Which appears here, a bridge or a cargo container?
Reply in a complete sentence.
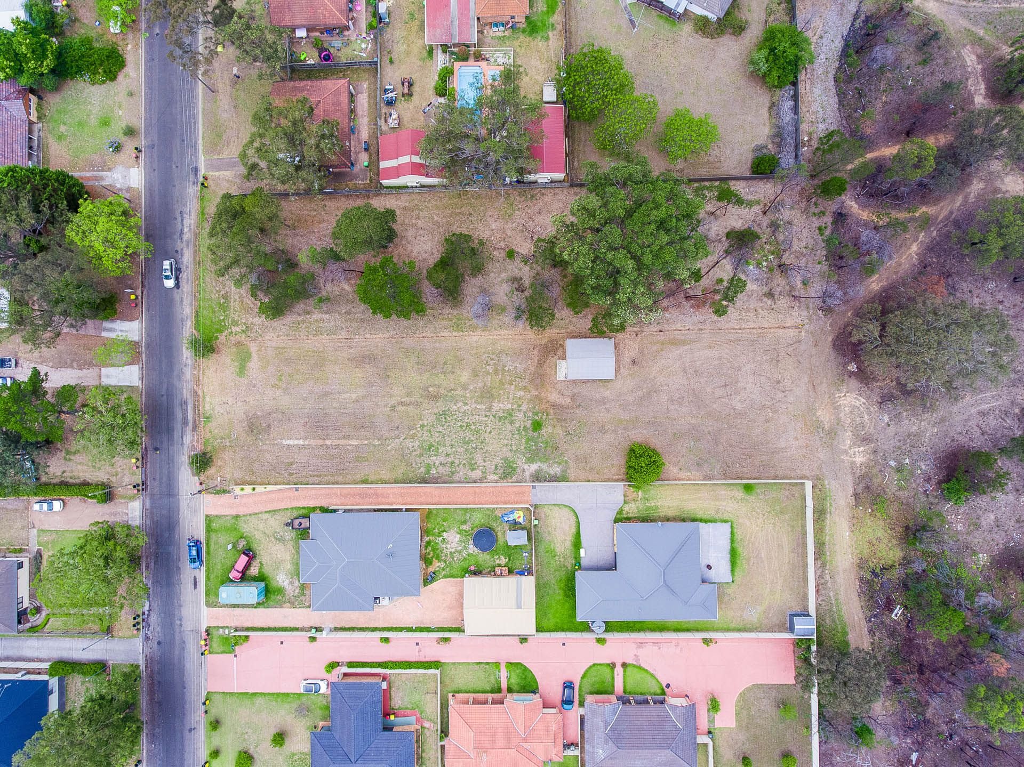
Of the two, only a cargo container appears.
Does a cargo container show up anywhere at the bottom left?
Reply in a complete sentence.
Yes, a cargo container appears at the bottom left.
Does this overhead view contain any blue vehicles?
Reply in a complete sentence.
Yes, the picture does show a blue vehicle.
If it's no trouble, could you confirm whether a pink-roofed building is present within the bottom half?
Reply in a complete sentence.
Yes, a pink-roofed building is visible within the bottom half.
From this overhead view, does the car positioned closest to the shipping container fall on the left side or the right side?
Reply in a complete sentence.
The car positioned closest to the shipping container appears in the left half of the scene.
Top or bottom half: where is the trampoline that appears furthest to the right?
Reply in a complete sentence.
The trampoline that appears furthest to the right sits in the bottom half of the picture.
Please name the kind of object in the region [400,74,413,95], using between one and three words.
vehicle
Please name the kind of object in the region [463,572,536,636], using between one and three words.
building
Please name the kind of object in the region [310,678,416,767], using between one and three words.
house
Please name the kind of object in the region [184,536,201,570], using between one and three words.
car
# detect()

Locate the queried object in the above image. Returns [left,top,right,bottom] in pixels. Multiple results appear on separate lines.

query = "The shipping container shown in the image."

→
[217,579,263,605]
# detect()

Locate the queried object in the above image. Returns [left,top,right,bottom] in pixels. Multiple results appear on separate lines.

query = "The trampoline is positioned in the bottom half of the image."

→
[473,530,496,553]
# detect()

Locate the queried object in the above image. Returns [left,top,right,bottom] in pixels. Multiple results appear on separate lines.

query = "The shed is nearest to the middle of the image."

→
[566,338,615,380]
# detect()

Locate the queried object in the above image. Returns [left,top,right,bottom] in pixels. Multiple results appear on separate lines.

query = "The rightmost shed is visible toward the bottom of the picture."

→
[790,613,815,636]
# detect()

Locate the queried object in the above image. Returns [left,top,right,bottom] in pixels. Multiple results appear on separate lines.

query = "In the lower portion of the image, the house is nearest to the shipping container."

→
[299,510,421,612]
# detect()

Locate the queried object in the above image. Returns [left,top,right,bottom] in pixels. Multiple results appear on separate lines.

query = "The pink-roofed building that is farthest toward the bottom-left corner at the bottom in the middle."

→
[444,698,564,767]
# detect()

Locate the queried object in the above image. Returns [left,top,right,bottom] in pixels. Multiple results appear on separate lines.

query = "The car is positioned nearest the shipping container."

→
[229,552,251,582]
